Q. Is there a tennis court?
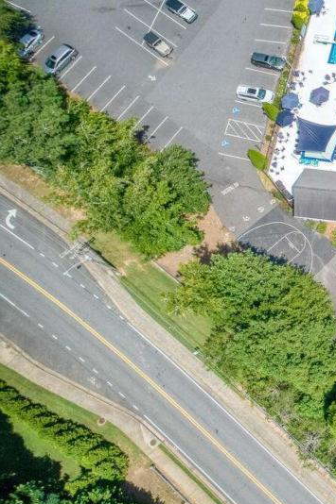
No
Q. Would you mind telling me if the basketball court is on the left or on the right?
right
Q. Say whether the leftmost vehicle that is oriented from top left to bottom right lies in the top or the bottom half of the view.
top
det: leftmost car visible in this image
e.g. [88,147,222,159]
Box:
[14,29,44,58]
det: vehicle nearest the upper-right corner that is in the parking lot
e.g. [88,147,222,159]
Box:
[252,53,285,71]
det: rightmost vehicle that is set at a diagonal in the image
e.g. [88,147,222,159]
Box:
[164,0,194,21]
